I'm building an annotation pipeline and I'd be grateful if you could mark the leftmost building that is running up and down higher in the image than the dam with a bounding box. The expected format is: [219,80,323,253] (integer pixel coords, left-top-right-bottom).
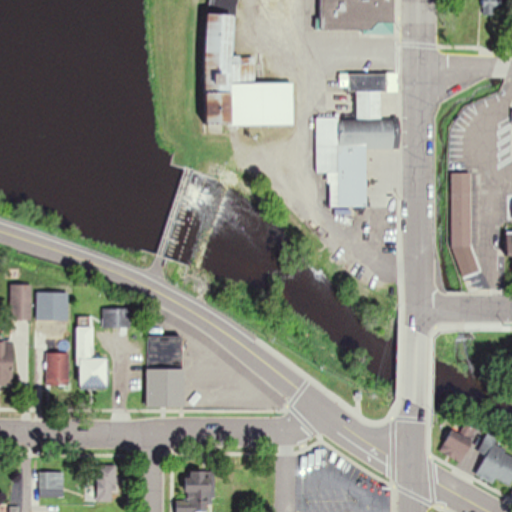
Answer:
[206,0,255,124]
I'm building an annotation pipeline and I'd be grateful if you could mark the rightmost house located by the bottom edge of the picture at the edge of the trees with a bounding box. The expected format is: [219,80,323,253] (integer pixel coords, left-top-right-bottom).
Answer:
[477,432,512,493]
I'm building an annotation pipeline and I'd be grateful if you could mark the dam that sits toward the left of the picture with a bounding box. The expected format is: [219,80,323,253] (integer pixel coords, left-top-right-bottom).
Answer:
[139,153,228,275]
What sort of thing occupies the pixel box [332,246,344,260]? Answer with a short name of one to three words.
vehicle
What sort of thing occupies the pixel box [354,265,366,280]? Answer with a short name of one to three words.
vehicle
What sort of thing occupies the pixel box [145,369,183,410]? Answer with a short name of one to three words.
building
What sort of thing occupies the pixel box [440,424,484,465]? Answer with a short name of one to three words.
house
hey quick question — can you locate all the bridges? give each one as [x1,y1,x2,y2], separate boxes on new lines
[396,328,435,400]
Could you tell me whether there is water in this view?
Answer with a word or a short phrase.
Yes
